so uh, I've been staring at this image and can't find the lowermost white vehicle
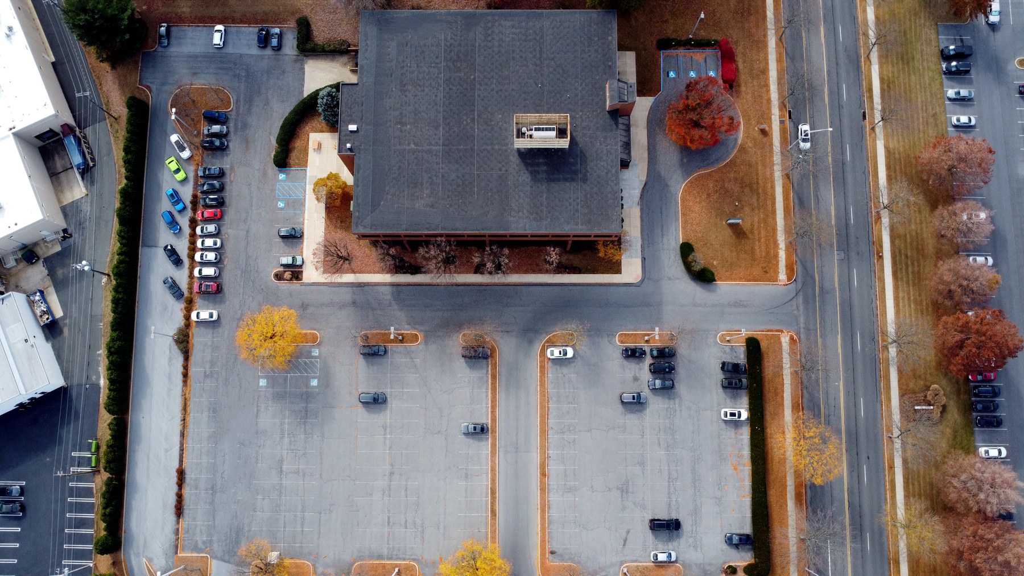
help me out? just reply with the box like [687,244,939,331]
[649,550,677,564]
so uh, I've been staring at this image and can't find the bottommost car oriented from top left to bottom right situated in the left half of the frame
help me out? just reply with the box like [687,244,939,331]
[163,275,184,301]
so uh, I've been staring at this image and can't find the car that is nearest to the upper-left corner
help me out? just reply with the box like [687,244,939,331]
[158,24,171,48]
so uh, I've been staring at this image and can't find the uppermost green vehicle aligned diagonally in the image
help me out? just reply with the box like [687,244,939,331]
[167,157,186,181]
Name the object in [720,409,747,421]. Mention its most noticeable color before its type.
white vehicle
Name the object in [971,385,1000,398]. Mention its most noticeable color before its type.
black vehicle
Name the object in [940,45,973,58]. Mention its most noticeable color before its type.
black vehicle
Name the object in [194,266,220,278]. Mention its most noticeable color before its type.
white vehicle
